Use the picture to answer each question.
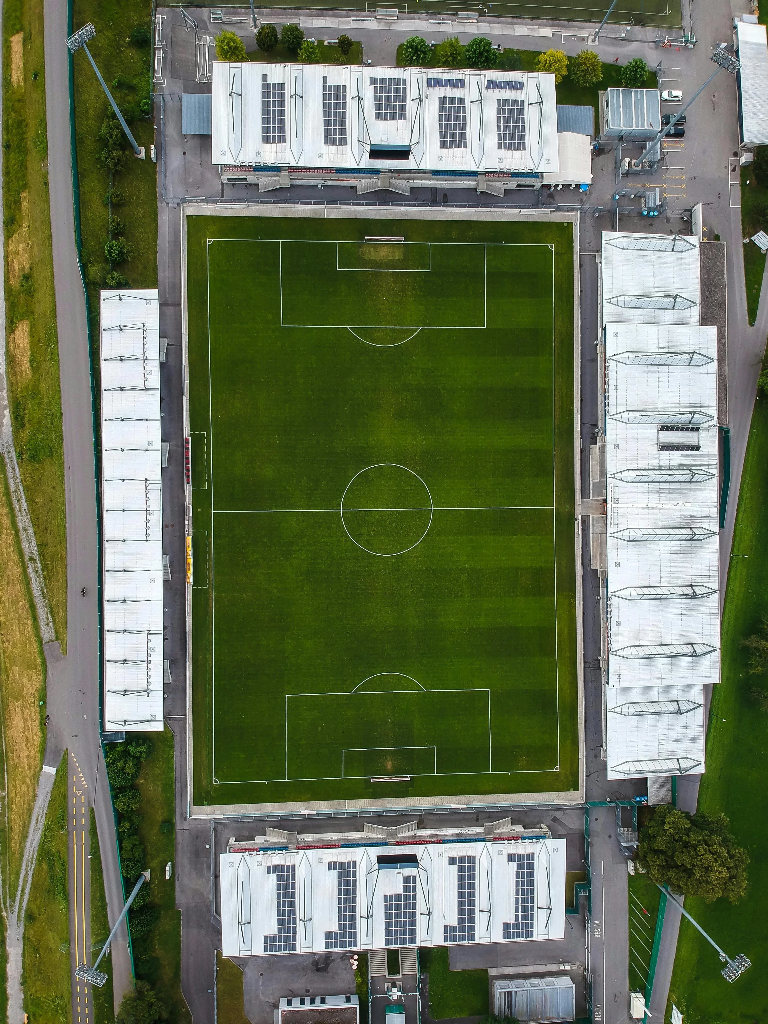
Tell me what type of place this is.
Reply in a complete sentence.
The area seen from above is a sports ground.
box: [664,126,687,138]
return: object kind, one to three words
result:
vehicle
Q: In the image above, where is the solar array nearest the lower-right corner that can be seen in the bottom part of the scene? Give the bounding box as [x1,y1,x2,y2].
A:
[502,853,535,940]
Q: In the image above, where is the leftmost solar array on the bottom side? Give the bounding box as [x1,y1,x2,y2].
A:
[263,864,297,953]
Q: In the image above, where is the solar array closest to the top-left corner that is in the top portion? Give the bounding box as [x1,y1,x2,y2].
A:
[262,74,286,144]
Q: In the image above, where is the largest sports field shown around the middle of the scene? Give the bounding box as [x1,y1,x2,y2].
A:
[187,215,579,806]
